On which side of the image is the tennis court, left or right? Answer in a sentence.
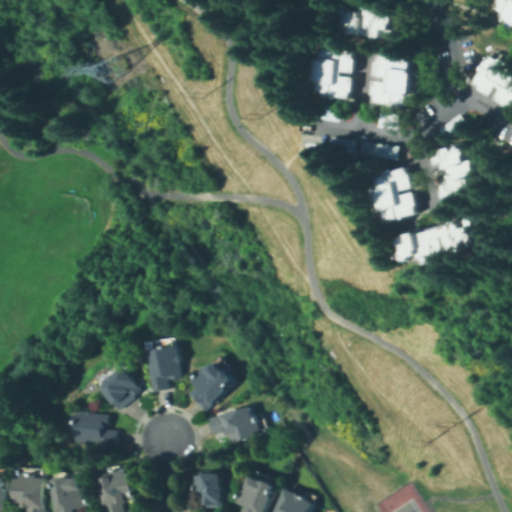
The tennis court appears in the right half of the scene.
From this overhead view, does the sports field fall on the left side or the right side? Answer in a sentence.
It is on the left.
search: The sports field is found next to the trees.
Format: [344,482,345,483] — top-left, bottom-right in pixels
[0,158,110,362]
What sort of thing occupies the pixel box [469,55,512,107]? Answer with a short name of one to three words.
building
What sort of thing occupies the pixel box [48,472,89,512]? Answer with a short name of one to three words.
house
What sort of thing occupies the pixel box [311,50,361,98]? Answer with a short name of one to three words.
building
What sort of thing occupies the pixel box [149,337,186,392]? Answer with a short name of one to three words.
house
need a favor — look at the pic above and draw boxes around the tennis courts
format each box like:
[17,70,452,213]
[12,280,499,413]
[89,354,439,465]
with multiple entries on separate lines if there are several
[378,483,430,512]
